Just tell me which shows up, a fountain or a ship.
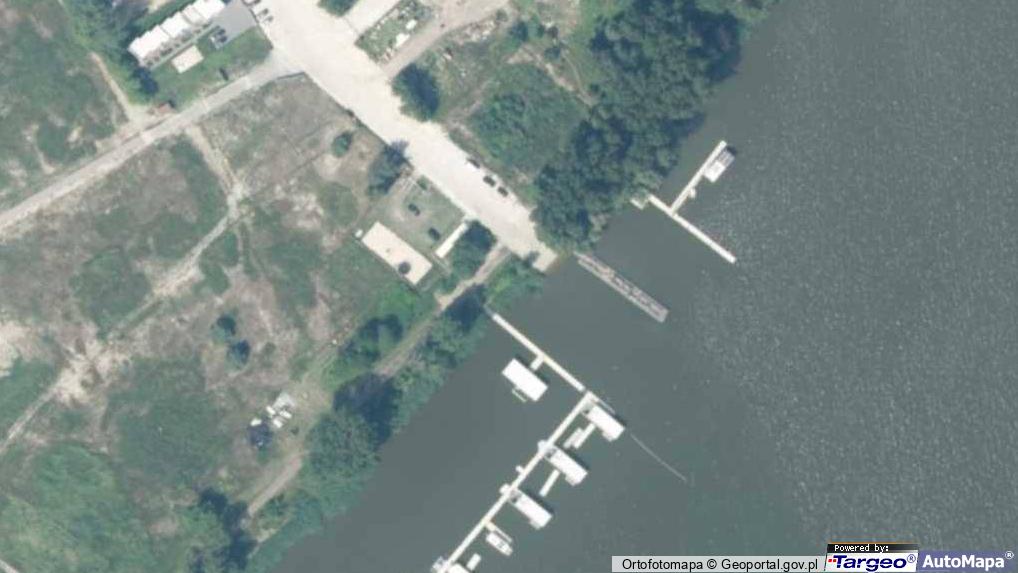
ship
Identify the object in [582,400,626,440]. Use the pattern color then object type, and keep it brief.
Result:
white boat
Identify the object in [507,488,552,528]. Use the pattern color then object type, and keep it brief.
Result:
white boat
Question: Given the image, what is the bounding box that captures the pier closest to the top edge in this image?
[672,142,725,212]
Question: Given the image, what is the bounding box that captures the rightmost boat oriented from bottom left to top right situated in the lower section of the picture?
[564,429,582,449]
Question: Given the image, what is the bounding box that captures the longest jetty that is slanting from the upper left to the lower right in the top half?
[649,195,735,263]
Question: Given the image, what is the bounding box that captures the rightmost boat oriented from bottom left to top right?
[704,149,735,182]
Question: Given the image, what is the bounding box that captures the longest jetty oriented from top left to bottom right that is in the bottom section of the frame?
[493,314,585,391]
